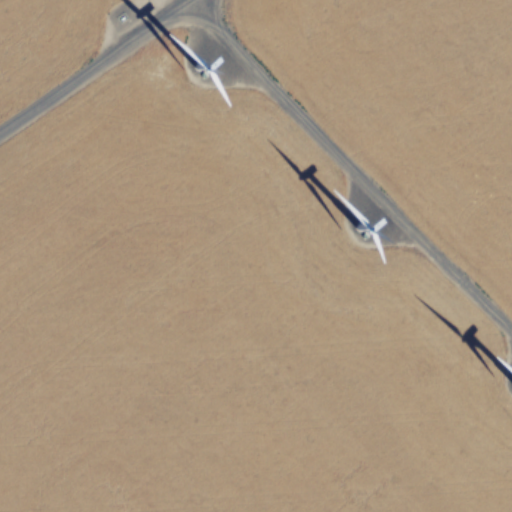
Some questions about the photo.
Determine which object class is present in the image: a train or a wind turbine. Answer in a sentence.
Of the two, only a wind turbine appears.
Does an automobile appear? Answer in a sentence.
No, I can't see a single automobile in this photo.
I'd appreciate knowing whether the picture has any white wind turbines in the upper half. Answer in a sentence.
Yes, a white wind turbine appears in the upper half.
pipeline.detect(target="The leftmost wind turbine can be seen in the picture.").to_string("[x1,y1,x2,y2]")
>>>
[177,30,228,103]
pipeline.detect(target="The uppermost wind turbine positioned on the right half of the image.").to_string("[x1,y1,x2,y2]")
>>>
[340,192,390,264]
